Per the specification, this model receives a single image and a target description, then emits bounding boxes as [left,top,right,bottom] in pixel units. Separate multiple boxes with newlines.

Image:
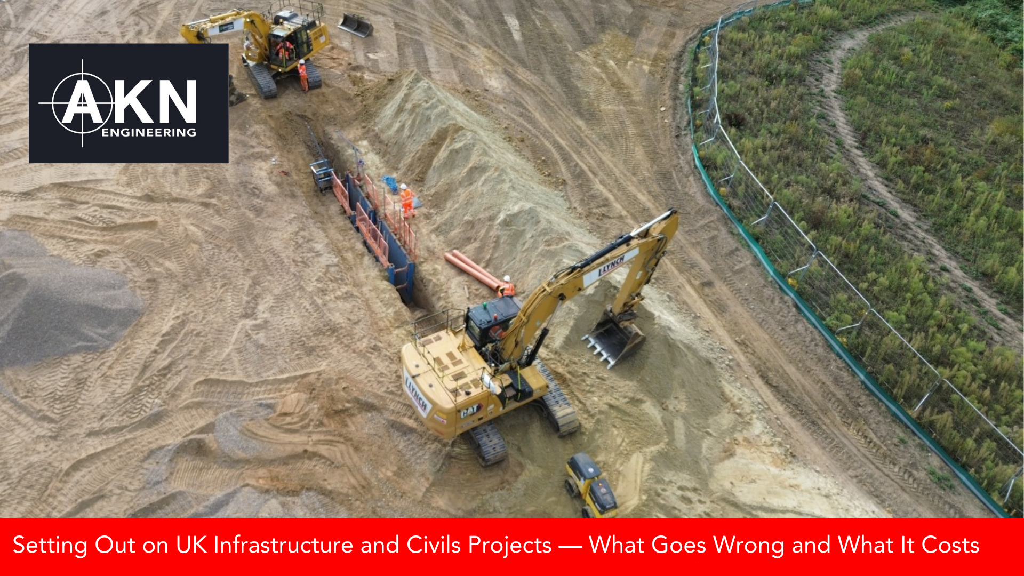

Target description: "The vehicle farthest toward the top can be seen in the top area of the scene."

[177,0,331,107]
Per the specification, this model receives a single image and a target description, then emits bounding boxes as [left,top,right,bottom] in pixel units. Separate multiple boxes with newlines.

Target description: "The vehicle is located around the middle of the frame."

[399,204,678,461]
